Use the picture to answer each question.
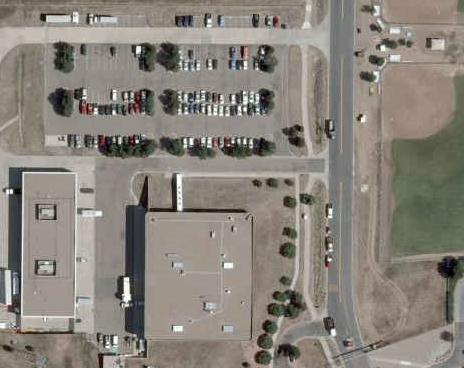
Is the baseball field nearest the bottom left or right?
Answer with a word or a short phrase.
right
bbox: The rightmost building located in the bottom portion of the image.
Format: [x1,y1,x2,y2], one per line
[145,211,254,341]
